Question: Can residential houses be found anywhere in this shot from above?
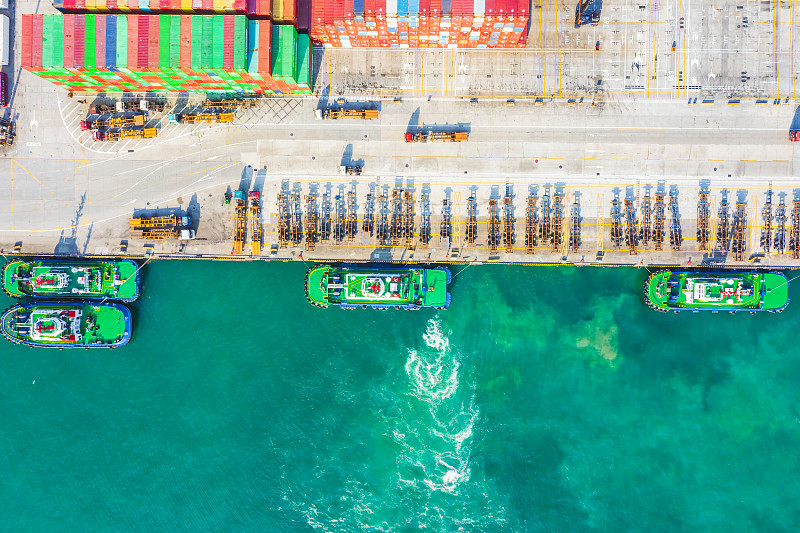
No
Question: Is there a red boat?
No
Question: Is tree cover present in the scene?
No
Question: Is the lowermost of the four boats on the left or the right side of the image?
left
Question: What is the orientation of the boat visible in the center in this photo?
from left to right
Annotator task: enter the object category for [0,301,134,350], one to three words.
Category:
boat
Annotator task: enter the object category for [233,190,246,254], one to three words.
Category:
vehicle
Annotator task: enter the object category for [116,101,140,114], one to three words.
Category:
vehicle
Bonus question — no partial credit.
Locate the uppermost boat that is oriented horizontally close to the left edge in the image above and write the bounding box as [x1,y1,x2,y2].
[2,259,144,302]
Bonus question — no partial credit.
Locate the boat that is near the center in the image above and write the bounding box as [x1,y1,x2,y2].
[306,263,452,309]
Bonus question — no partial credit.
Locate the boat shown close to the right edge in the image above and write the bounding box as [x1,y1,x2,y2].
[646,270,791,313]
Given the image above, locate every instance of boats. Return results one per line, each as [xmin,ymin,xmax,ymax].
[306,263,452,309]
[646,270,791,313]
[0,301,134,350]
[2,259,144,302]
